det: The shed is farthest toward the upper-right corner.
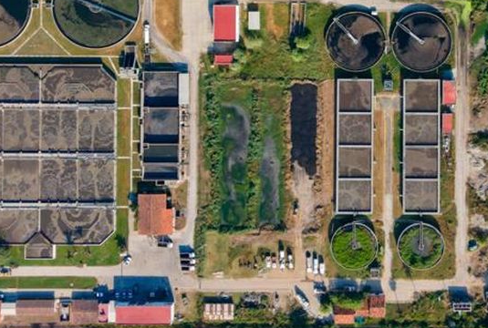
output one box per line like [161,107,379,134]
[442,81,456,105]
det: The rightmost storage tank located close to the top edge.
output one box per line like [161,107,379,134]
[392,12,452,72]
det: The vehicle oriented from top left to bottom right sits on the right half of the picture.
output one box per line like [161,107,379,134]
[297,293,314,311]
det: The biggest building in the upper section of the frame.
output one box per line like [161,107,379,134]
[214,5,239,40]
